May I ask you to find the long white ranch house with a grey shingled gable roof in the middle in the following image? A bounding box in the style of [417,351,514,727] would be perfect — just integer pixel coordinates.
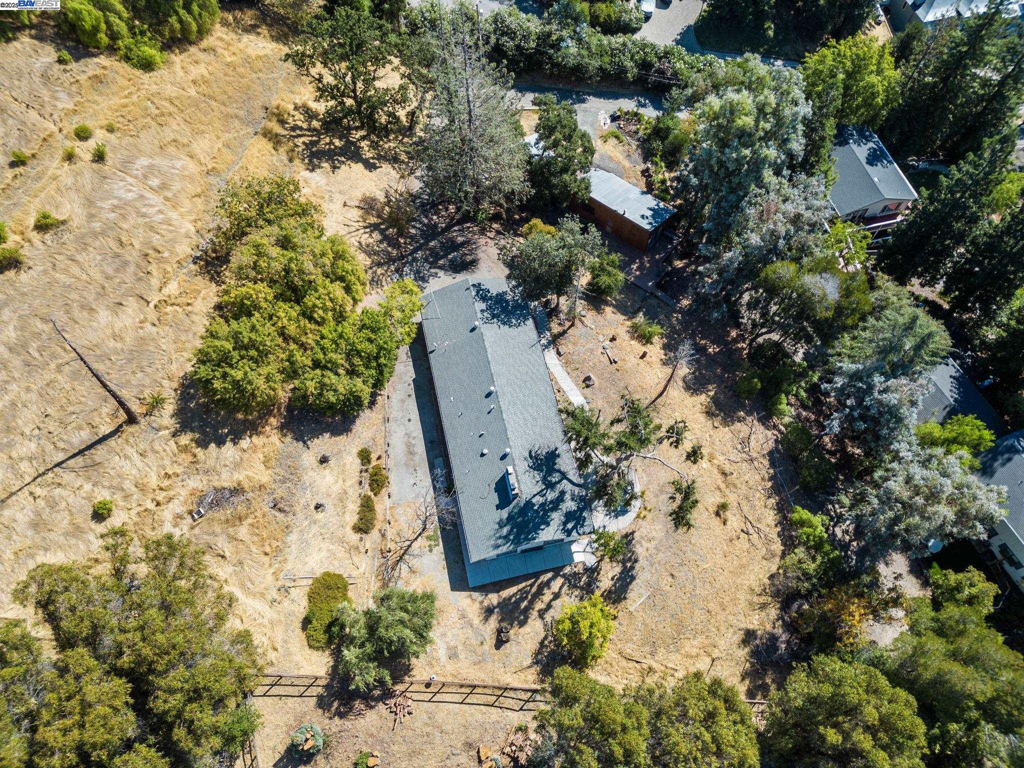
[417,277,596,566]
